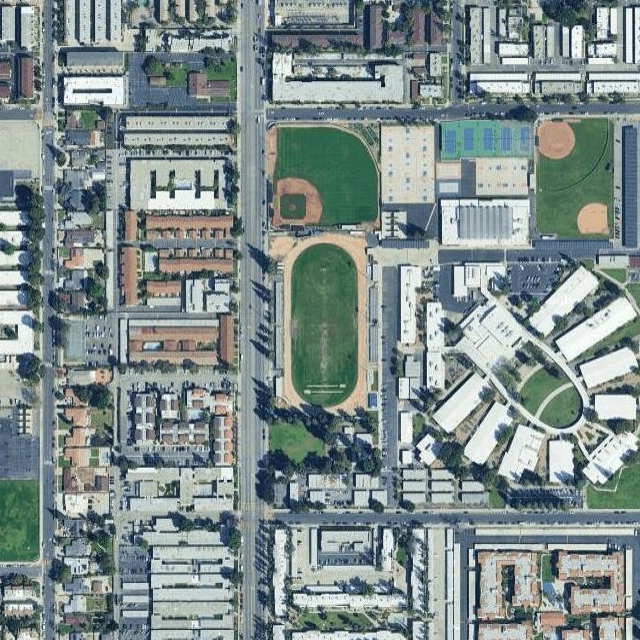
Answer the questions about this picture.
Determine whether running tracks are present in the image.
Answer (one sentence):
Yes, the image includes a running track.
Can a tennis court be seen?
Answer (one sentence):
Yes, there's a tennis court here.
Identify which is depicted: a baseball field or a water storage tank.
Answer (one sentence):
It is a baseball field that can be seen here.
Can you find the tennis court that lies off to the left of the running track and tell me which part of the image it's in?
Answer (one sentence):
The tennis court that lies off to the left of the running track is in the left part of the image.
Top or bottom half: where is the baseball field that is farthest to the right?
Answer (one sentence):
It is in the top half that the baseball field that is farthest to the right appears.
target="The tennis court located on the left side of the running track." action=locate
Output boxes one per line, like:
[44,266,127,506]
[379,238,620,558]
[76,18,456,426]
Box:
[62,318,85,363]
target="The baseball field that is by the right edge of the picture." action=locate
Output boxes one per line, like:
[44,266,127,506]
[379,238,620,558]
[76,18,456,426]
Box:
[536,119,615,239]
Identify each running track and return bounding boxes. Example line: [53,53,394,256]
[271,233,367,413]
